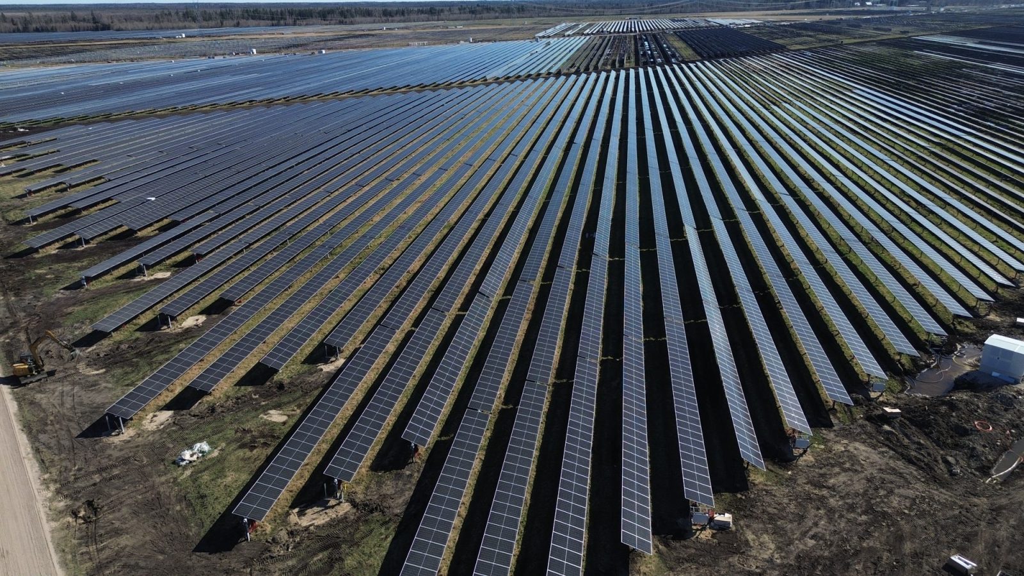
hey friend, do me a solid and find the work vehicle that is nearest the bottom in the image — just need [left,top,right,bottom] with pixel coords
[7,327,80,388]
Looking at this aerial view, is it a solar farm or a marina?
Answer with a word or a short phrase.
solar farm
